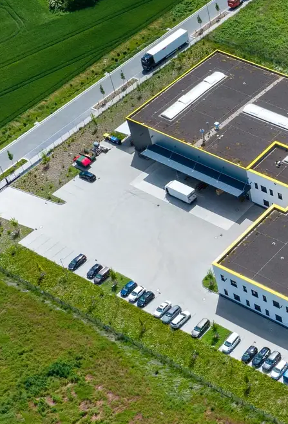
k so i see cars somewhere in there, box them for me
[190,317,211,338]
[127,285,146,303]
[118,280,140,299]
[271,362,288,380]
[241,346,259,364]
[251,346,272,369]
[221,332,242,354]
[262,350,282,373]
[160,304,182,324]
[79,171,98,183]
[67,254,87,271]
[281,370,288,384]
[92,266,113,285]
[135,289,156,309]
[152,300,174,319]
[169,311,190,329]
[85,263,105,281]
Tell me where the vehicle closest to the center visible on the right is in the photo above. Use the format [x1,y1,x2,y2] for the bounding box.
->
[168,180,201,204]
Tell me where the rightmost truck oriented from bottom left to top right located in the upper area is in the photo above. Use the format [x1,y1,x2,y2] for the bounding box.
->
[142,28,189,72]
